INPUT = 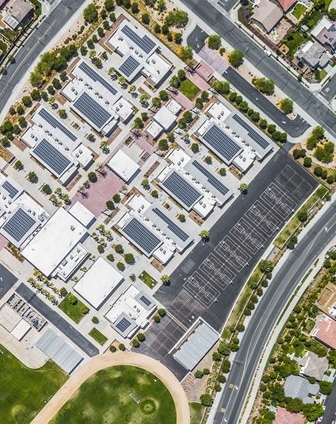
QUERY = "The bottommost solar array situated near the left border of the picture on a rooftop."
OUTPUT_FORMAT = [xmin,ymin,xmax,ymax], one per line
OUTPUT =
[4,210,35,242]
